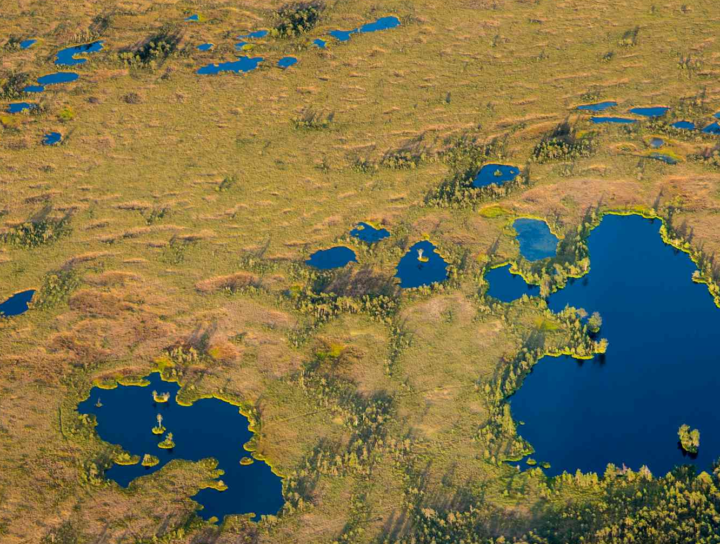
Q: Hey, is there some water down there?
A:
Yes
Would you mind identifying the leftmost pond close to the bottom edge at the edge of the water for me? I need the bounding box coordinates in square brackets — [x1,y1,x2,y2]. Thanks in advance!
[78,373,284,526]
